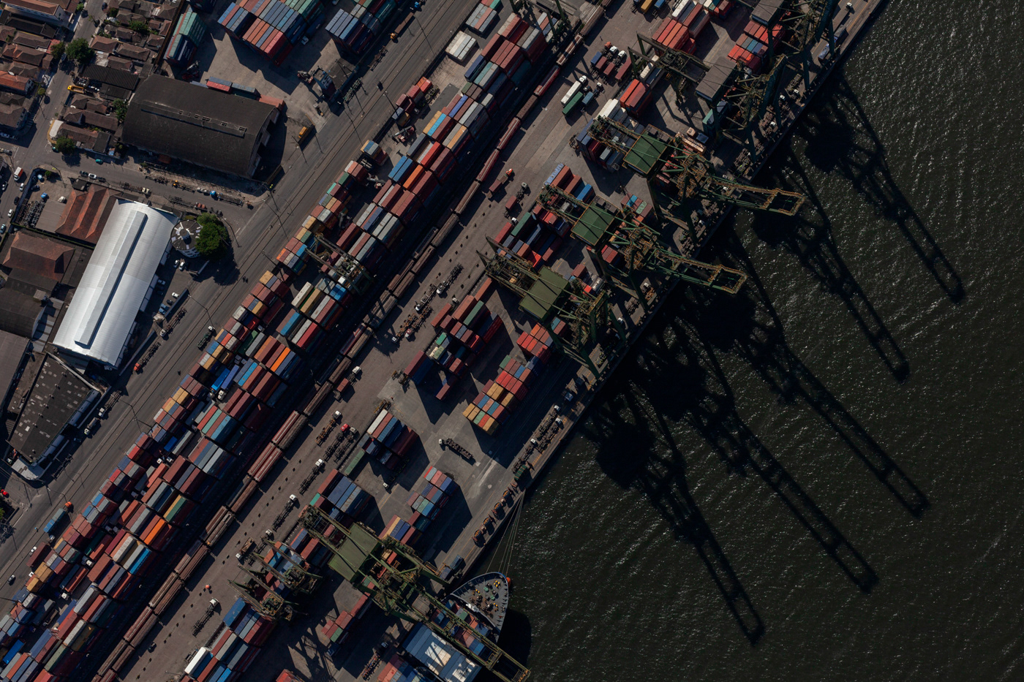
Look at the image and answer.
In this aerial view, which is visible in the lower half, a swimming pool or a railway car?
railway car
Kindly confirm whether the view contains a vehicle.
Yes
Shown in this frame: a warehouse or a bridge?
warehouse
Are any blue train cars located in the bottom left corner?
No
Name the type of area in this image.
port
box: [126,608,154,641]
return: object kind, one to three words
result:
rail car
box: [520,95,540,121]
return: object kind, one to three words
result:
rail car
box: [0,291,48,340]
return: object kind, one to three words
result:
building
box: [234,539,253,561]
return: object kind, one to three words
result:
vehicle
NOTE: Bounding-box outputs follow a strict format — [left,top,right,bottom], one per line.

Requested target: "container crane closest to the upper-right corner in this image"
[748,0,840,92]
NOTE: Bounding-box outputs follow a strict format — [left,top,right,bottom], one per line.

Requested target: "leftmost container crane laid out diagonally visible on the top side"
[304,235,374,296]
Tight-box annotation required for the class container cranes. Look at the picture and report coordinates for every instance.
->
[537,183,749,317]
[484,251,630,384]
[250,537,324,598]
[474,234,540,292]
[302,510,530,682]
[304,235,374,296]
[505,0,569,29]
[656,38,786,169]
[589,114,804,249]
[626,31,687,95]
[227,564,304,626]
